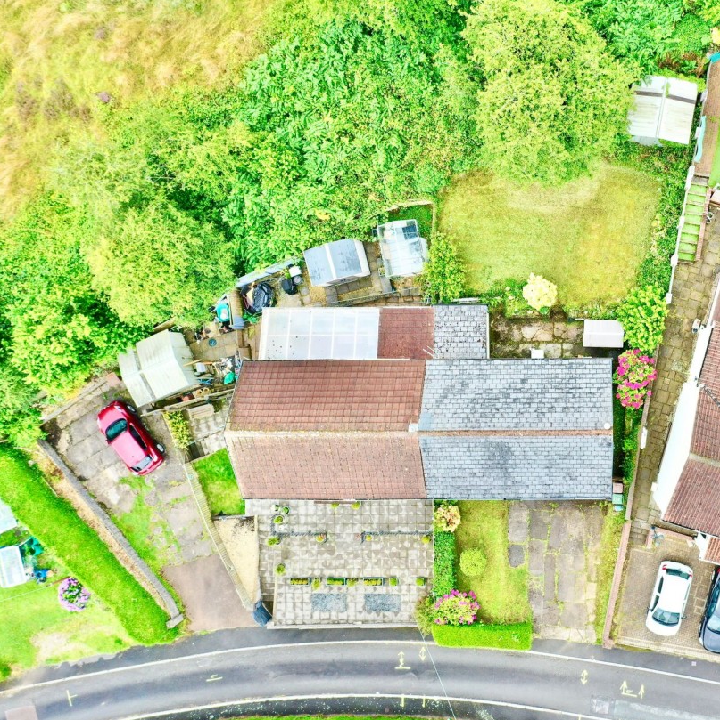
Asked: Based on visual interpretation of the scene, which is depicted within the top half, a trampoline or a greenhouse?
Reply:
greenhouse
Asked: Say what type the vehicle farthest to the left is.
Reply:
automobile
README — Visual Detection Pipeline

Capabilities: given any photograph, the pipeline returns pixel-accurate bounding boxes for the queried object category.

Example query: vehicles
[700,572,720,658]
[646,560,697,643]
[93,399,160,483]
